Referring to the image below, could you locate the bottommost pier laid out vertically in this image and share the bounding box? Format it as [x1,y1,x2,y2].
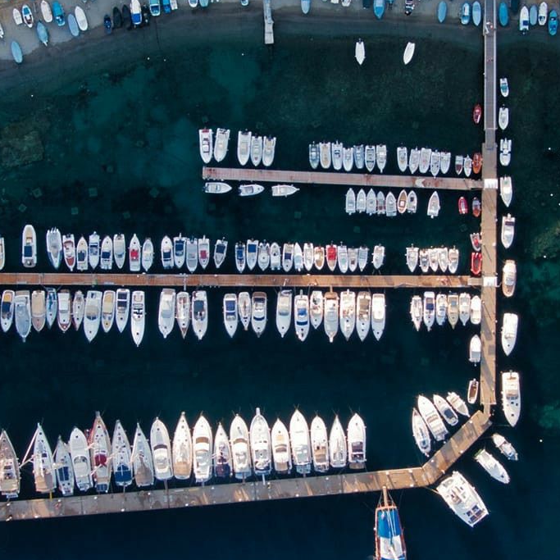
[479,146,497,407]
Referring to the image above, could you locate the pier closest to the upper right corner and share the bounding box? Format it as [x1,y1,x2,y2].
[482,0,495,149]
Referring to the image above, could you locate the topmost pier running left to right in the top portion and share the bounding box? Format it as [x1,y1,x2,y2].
[203,167,482,189]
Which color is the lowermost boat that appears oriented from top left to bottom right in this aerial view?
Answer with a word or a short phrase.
white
